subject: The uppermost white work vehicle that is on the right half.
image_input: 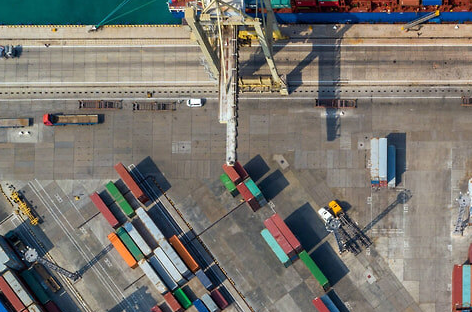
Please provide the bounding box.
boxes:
[316,204,331,222]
